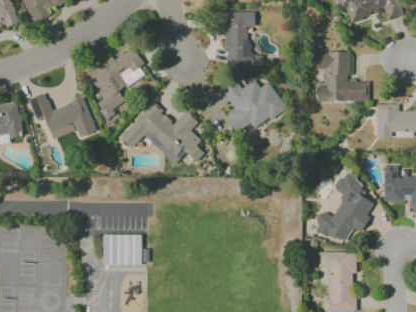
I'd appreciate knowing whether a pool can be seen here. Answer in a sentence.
Yes, the photo shows a pool.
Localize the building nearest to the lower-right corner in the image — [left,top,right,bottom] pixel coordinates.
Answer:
[320,251,357,312]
